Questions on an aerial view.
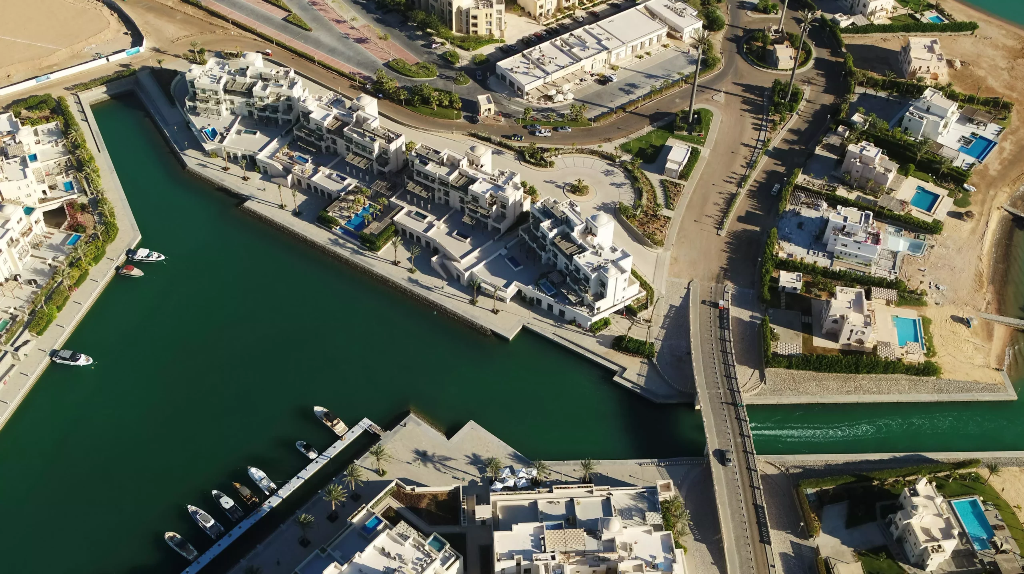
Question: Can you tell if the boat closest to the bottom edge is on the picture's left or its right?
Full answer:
The boat closest to the bottom edge appears in the left half of the scene.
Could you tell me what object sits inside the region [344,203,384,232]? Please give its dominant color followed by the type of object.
blue swimming pool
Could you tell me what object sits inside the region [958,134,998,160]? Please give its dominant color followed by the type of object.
blue swimming pool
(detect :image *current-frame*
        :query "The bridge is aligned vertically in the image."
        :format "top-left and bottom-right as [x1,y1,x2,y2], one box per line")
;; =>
[689,285,778,574]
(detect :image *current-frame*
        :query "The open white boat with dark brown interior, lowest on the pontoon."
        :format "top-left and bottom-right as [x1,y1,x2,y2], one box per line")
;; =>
[165,531,207,565]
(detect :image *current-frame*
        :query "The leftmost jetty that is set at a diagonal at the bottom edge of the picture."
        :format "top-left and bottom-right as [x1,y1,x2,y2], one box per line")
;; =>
[183,418,374,574]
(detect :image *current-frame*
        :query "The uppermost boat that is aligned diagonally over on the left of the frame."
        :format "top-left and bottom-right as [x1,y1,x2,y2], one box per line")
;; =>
[314,404,355,436]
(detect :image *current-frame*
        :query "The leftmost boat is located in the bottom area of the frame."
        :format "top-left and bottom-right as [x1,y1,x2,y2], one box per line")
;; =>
[53,351,94,365]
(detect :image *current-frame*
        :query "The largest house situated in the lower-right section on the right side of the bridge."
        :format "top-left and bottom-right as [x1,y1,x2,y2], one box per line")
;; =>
[888,478,958,570]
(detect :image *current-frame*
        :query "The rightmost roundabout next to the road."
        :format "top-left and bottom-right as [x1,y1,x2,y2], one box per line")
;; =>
[740,32,817,74]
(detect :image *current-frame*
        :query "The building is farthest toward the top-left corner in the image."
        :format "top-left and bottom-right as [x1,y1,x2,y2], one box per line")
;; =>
[0,112,87,216]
